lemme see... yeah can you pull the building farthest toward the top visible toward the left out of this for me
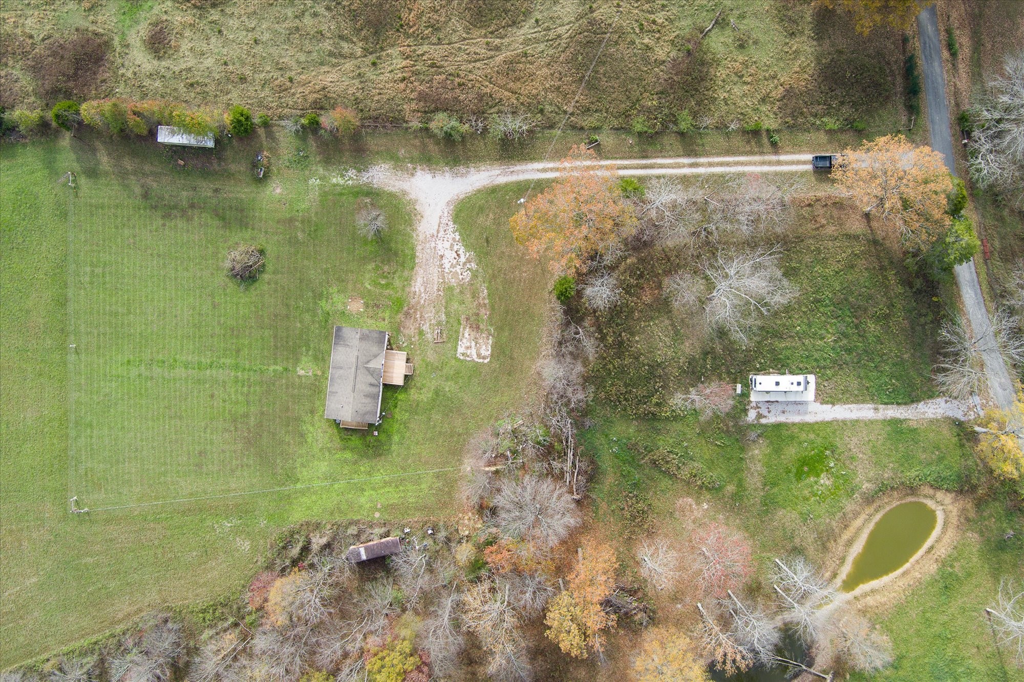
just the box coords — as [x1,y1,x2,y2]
[324,326,388,423]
